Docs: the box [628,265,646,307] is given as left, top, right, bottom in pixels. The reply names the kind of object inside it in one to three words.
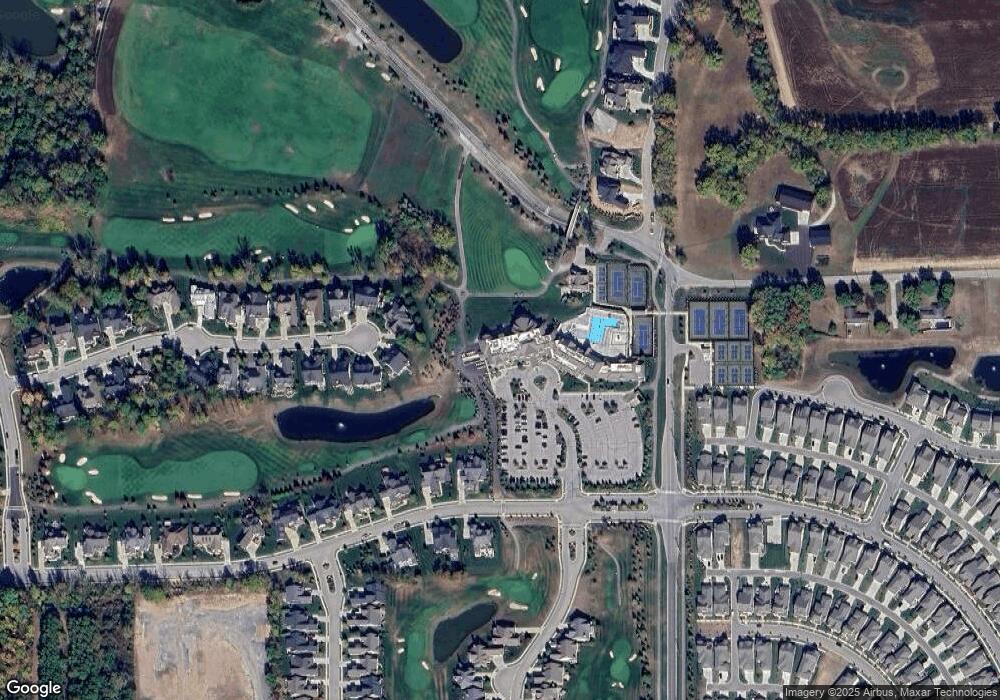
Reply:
tennis court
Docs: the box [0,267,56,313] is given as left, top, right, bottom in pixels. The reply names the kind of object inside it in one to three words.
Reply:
pond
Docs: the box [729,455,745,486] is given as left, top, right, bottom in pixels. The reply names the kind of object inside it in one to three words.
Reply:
house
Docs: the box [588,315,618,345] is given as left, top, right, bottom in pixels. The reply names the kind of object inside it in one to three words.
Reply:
swimming pool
